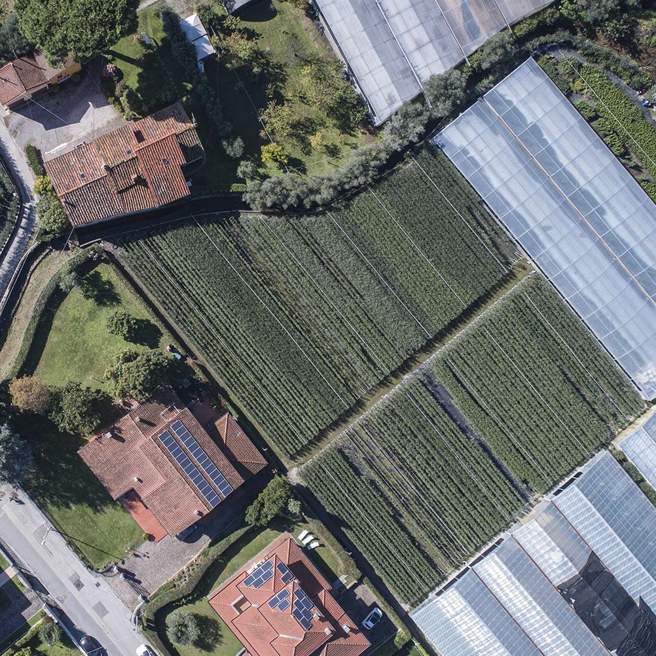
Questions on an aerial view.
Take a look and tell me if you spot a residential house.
Yes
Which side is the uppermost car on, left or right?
left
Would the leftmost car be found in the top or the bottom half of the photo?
bottom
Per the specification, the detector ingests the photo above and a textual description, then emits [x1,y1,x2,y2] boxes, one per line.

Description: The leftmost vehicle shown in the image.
[77,633,107,656]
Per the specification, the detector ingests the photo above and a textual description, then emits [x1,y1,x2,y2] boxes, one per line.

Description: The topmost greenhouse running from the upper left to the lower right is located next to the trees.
[429,57,656,401]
